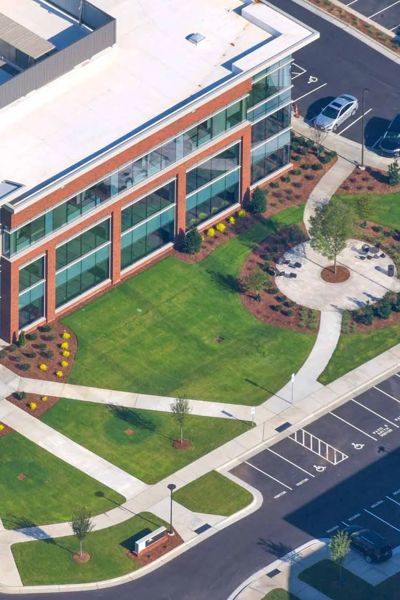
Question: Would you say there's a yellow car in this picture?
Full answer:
No, there is no yellow car in the image.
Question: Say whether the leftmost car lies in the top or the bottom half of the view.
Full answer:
The leftmost car sits in the top half of the picture.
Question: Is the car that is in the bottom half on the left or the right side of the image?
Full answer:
The car that is in the bottom half sits on the right side.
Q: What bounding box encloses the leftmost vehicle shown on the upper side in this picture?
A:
[312,96,361,132]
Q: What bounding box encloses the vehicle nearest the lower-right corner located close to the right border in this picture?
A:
[346,527,395,565]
